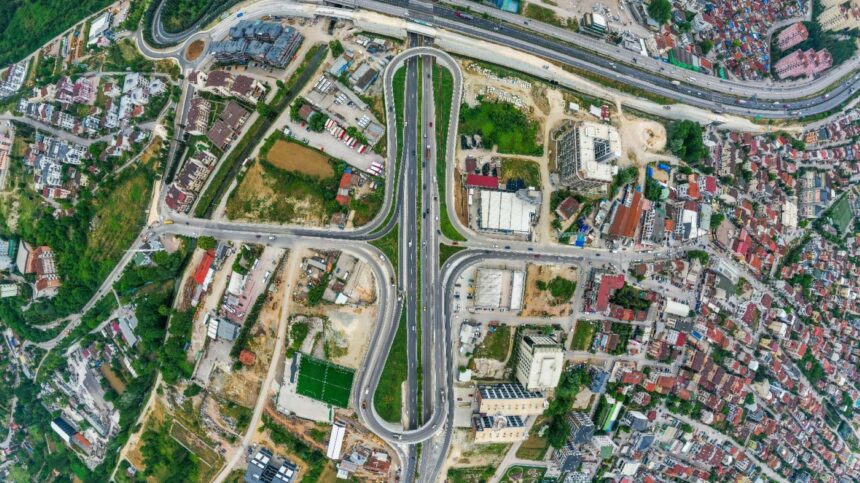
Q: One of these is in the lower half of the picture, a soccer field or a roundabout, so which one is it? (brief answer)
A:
soccer field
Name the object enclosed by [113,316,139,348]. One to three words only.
shed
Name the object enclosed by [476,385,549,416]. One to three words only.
building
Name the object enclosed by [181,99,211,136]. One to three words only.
house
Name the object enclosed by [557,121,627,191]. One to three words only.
building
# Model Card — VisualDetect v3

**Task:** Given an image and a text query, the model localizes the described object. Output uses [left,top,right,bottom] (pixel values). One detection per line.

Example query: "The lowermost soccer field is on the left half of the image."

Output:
[276,352,357,423]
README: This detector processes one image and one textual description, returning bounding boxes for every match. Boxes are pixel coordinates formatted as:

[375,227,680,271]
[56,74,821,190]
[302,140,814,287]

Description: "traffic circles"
[178,31,211,68]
